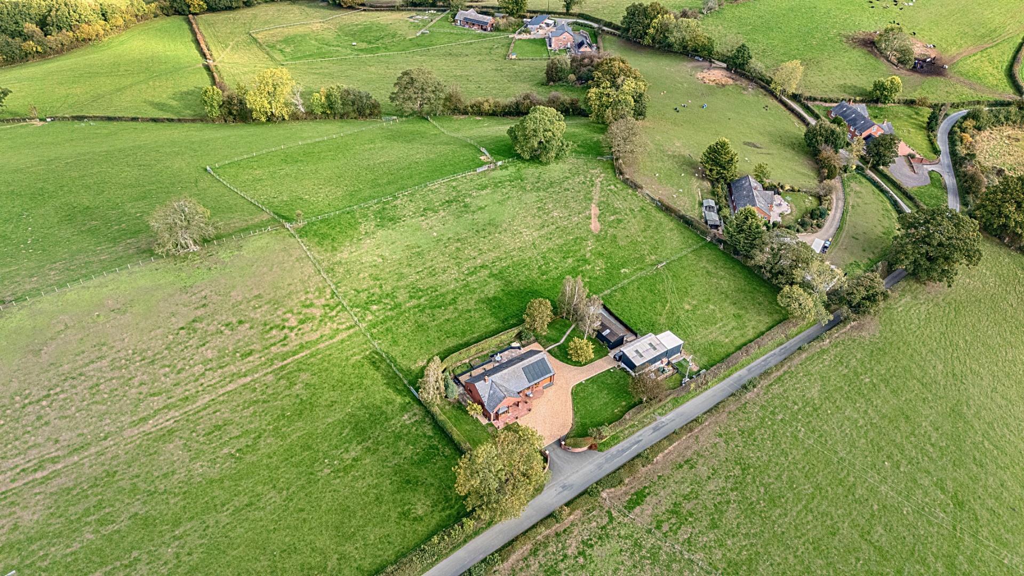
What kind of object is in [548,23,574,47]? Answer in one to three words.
house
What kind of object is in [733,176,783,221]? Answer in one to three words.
house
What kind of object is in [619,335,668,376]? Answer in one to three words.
shed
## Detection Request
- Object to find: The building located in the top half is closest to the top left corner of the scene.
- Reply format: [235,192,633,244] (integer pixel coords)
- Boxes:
[455,12,494,31]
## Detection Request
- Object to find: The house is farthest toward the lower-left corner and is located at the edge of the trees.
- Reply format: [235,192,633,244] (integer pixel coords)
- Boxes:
[464,351,556,419]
